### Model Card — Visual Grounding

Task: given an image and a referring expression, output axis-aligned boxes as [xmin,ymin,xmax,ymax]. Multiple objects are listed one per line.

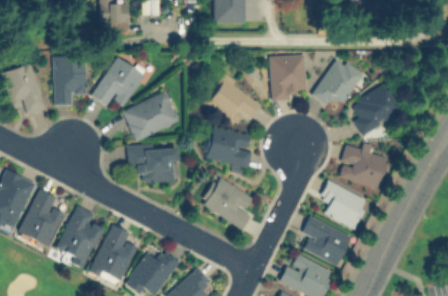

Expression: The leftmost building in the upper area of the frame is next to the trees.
[4,66,46,113]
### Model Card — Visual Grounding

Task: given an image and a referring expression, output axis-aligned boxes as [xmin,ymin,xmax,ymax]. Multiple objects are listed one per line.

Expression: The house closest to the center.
[206,126,251,171]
